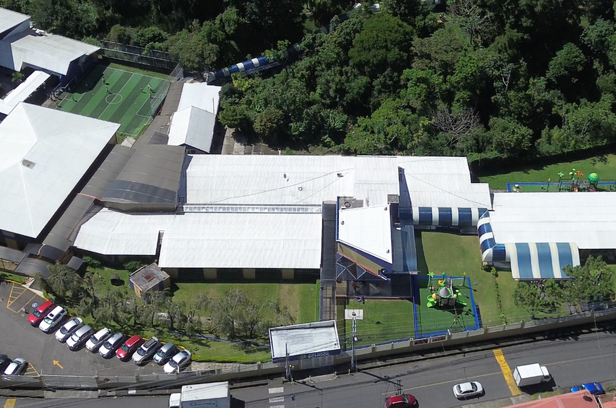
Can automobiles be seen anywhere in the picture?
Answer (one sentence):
Yes, an automobile appears in the view.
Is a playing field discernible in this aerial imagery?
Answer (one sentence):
Yes, this view includes a playing field.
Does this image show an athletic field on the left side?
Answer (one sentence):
Yes, there is an athletic field on the left side.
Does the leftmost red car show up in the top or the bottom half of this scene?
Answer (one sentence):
The leftmost red car is in the bottom half of the image.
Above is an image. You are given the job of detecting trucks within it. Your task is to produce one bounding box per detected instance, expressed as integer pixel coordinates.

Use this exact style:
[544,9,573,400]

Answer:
[518,362,556,388]
[169,384,231,408]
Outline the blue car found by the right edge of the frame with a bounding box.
[570,381,606,396]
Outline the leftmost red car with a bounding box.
[28,300,55,325]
